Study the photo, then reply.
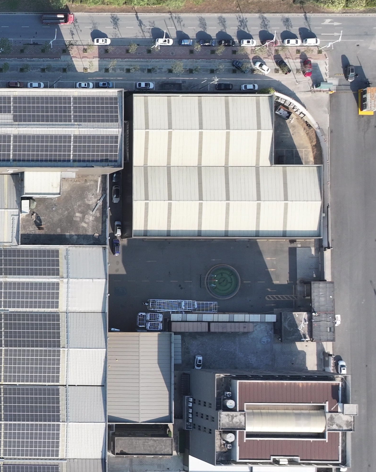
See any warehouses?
Yes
